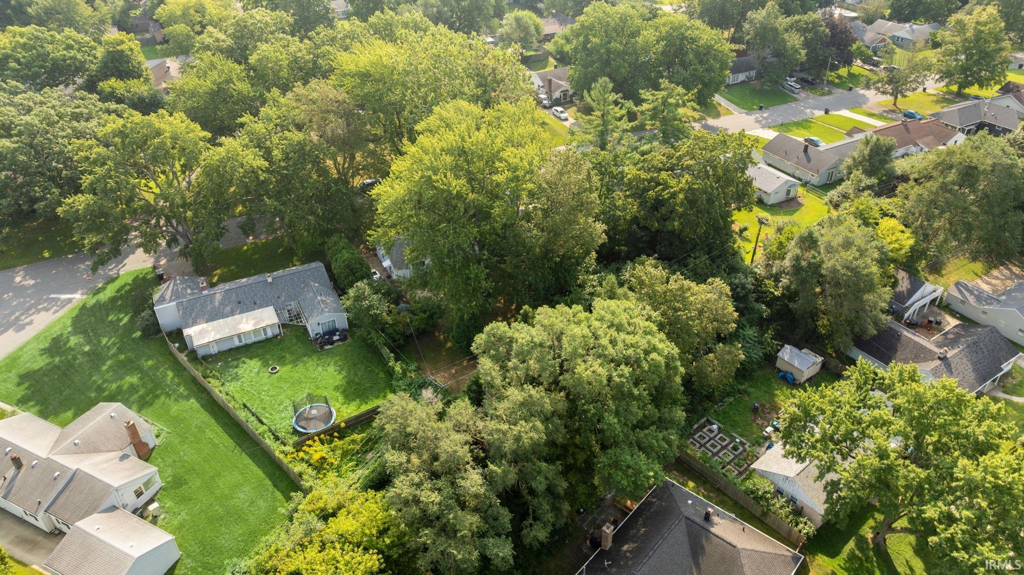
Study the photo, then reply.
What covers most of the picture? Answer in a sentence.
The scene is dominated by trees.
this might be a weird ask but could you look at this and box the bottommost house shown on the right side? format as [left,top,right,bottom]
[586,478,806,575]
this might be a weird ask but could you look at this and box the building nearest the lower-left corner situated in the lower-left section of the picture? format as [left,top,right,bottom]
[0,399,178,575]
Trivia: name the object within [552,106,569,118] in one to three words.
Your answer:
vehicle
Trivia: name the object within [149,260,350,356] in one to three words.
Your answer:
house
